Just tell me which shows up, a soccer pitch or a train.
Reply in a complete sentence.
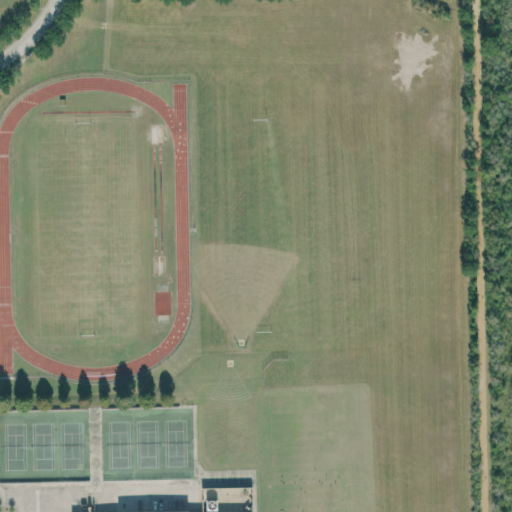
I can see a soccer pitch in this picture.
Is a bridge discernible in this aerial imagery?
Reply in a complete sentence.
No, there's no bridge here.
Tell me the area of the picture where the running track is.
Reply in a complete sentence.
The running track is located in the left region of the scene.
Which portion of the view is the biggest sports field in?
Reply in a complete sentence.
Look in the left portion of the view to spot the biggest sports field.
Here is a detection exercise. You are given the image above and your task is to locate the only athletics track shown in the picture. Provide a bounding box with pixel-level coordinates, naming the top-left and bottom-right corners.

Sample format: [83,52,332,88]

[0,77,191,381]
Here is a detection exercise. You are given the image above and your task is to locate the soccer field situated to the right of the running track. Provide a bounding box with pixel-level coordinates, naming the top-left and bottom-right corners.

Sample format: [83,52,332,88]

[227,121,299,242]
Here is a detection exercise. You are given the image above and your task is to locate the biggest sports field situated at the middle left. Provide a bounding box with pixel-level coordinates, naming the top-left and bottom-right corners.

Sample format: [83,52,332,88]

[37,121,135,337]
